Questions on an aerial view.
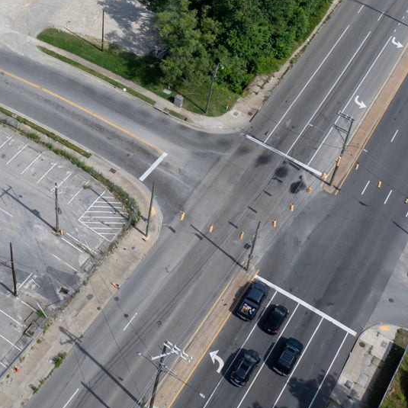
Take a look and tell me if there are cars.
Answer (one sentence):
Yes, a car is visible in the scene.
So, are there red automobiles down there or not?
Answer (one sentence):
No, the scene contains no red automobile.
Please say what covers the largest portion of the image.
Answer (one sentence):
For the most part, this view shows paved ground.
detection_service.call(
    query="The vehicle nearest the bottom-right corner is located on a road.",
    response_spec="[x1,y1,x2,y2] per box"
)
[265,333,304,384]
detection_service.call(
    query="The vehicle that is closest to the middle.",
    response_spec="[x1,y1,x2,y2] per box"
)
[230,279,267,326]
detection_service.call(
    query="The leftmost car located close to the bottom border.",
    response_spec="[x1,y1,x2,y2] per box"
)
[227,346,261,391]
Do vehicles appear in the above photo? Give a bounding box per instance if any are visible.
[259,302,290,341]
[265,333,304,384]
[227,346,261,391]
[230,279,267,326]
